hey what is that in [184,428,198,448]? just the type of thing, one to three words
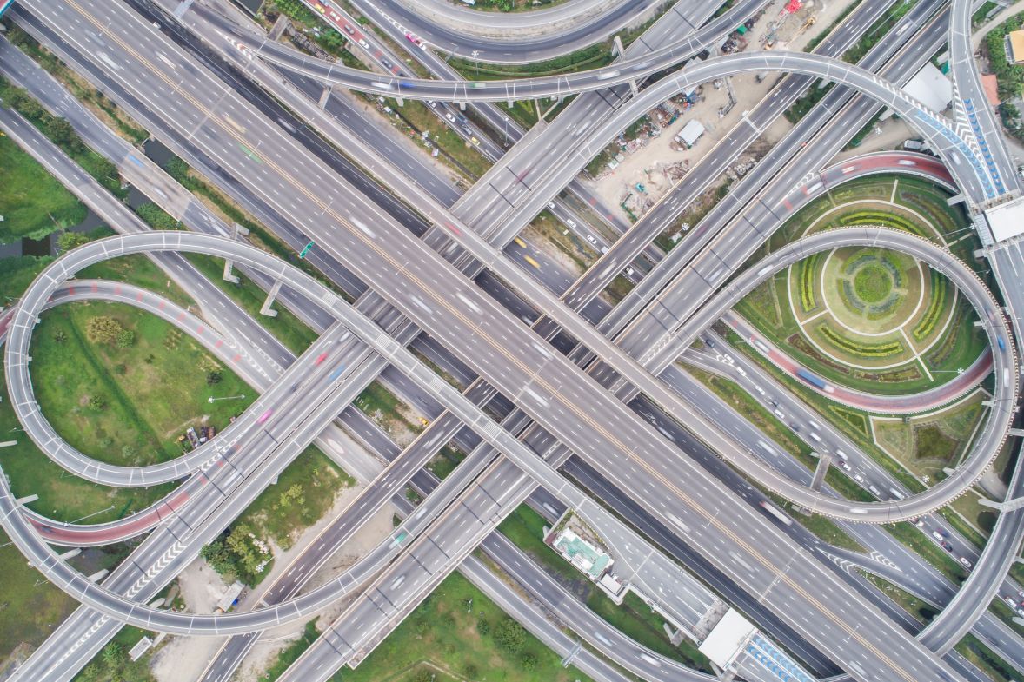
vehicle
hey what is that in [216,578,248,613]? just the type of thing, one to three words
shed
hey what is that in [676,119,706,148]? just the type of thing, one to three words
shed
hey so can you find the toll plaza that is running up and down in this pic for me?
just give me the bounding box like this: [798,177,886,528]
[957,173,1024,361]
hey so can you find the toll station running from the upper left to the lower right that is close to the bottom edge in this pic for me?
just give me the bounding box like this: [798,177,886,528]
[542,495,821,682]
